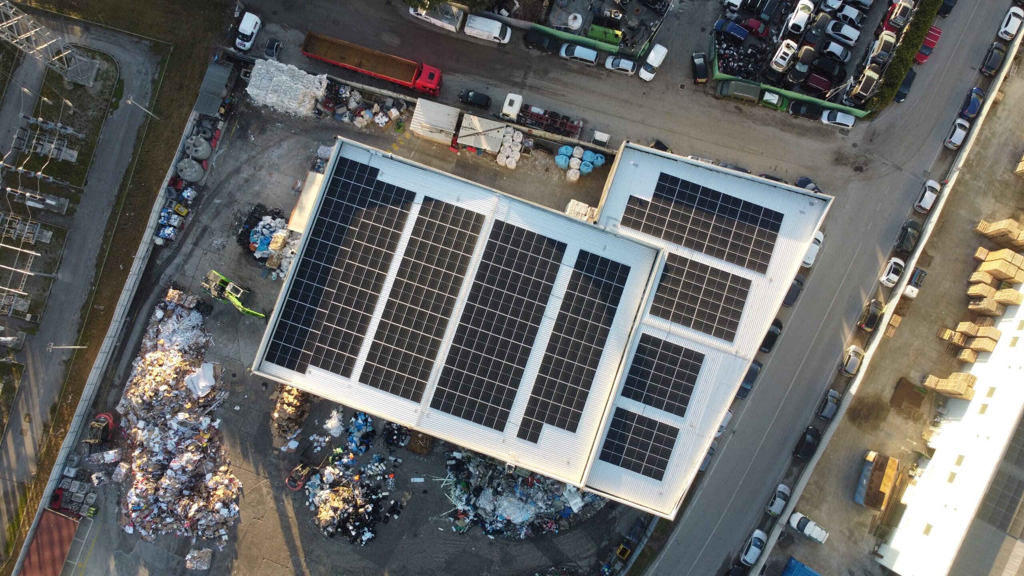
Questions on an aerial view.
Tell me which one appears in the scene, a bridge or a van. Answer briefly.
van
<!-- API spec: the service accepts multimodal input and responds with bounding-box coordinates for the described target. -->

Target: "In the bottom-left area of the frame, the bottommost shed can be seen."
[21,508,84,576]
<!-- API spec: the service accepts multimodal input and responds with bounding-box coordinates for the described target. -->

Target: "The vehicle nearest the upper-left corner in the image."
[236,11,264,51]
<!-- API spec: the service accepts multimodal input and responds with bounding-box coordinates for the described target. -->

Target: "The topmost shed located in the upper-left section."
[200,61,236,100]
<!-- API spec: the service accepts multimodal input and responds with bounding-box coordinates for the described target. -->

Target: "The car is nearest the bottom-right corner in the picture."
[788,510,828,544]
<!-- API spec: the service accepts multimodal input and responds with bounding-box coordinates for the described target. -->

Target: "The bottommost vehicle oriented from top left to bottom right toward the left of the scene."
[197,267,274,324]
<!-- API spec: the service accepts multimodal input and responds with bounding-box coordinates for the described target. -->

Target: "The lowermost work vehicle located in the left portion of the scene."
[288,454,318,487]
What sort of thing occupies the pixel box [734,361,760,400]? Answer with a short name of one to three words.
car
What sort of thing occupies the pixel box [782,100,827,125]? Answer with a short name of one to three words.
truck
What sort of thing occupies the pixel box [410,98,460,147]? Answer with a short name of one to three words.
shed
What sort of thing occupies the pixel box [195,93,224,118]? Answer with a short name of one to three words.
shed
